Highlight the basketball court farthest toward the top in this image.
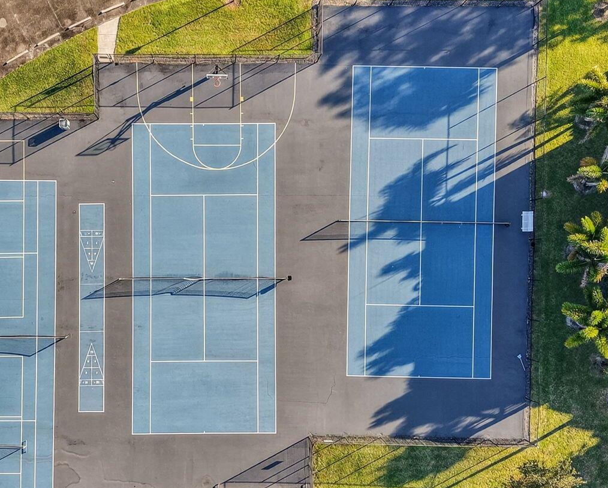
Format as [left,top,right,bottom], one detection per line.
[137,62,296,170]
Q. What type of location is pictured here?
sports ground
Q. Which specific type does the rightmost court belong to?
tennis court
